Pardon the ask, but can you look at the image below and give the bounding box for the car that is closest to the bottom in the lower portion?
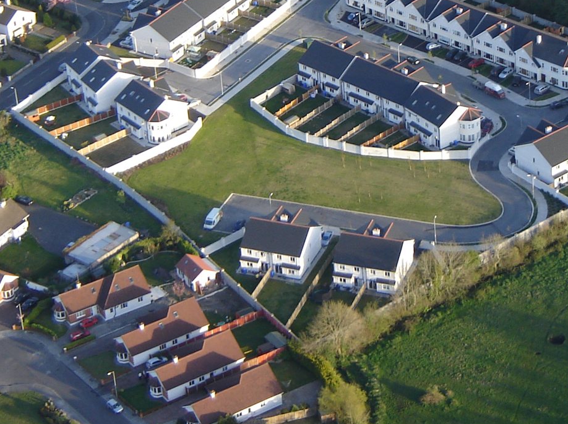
[103,395,125,411]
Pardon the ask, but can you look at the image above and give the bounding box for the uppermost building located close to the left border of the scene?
[0,0,38,45]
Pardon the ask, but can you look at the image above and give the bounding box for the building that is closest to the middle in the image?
[238,205,322,282]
